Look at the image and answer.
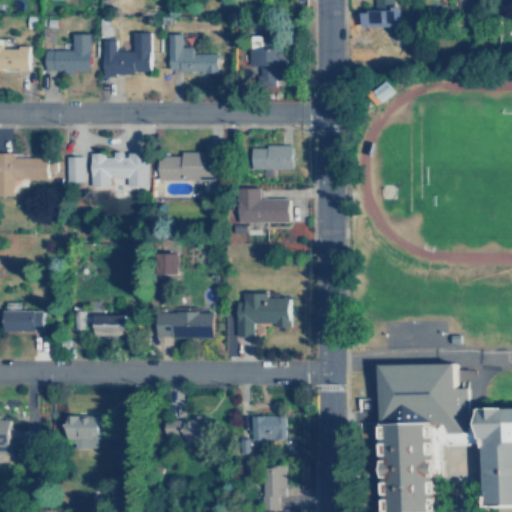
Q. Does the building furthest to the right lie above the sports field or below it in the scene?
below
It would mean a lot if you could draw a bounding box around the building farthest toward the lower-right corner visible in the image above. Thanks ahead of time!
[470,408,512,508]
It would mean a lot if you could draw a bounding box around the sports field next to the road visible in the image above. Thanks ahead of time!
[374,92,512,252]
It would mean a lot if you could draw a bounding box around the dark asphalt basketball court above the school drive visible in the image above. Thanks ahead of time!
[388,322,448,348]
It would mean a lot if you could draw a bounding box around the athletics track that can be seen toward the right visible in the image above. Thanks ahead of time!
[362,82,512,264]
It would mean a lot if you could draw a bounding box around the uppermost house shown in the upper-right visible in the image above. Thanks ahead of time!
[358,0,402,28]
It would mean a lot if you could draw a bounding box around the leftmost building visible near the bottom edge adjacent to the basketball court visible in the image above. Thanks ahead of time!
[374,364,471,512]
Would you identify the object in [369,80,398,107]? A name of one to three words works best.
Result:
shed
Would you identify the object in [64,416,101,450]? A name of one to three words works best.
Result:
house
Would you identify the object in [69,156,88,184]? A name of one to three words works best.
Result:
building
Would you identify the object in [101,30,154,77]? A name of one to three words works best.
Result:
house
